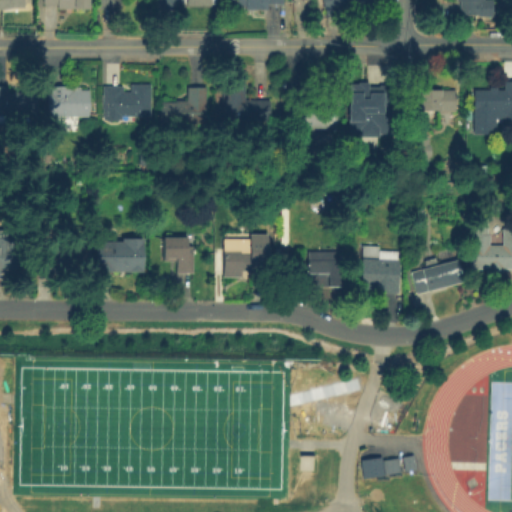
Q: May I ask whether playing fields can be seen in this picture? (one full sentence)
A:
Yes, the photo shows a playing field.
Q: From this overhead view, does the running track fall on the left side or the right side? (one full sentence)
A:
The running track is on the right side of the image.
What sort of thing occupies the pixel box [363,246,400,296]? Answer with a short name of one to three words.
house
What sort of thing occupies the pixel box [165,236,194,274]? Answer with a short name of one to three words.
house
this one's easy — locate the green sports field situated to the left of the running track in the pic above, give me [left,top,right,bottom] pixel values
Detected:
[14,357,290,498]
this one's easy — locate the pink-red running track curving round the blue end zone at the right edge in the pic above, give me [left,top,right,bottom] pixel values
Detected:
[424,344,512,512]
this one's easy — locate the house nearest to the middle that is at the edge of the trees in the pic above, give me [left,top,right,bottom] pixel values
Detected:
[224,234,270,280]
